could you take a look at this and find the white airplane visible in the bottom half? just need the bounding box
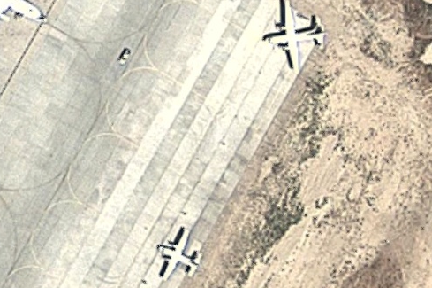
[160,227,202,280]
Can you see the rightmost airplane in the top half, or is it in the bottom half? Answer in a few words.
top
